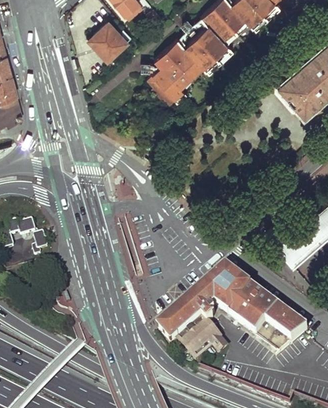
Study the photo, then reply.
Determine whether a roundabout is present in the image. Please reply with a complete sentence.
No, the frame has no roundabout in it.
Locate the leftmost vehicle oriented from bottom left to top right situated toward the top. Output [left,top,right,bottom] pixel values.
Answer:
[20,135,33,150]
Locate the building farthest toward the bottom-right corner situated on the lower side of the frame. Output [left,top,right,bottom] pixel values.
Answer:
[256,298,306,354]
